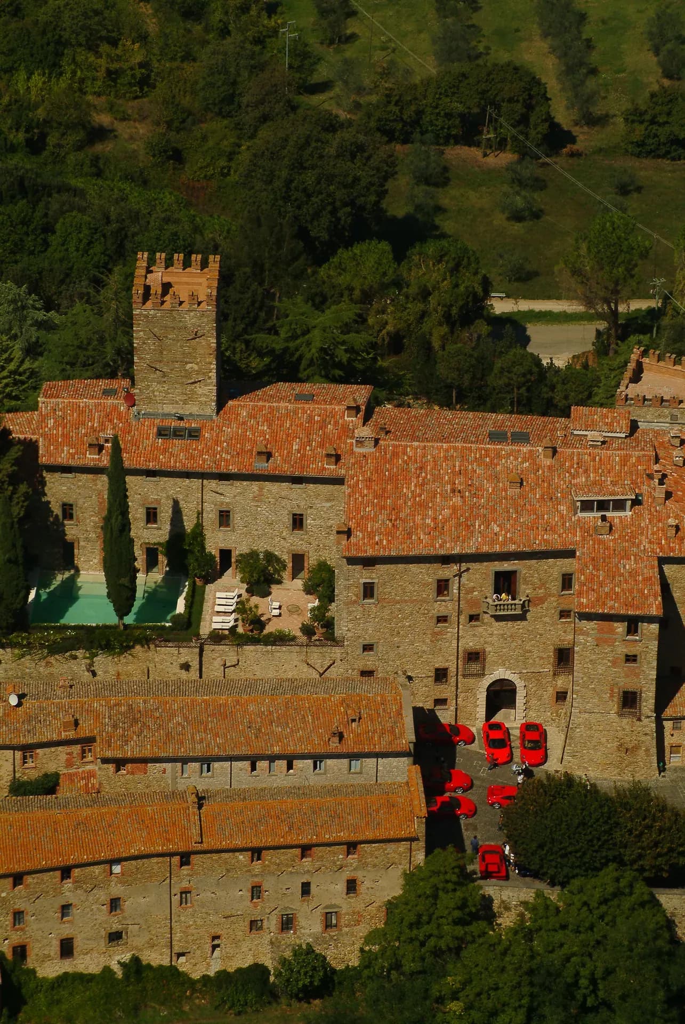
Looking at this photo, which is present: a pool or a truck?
pool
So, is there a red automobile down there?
Yes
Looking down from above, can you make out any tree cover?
Yes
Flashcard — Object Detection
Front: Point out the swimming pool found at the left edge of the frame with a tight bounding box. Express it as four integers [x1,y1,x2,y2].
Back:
[30,570,194,626]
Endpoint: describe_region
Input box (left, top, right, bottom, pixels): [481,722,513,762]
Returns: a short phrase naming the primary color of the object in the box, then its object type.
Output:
red car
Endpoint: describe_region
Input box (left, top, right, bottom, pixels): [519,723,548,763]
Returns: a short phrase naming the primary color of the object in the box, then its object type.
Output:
red car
